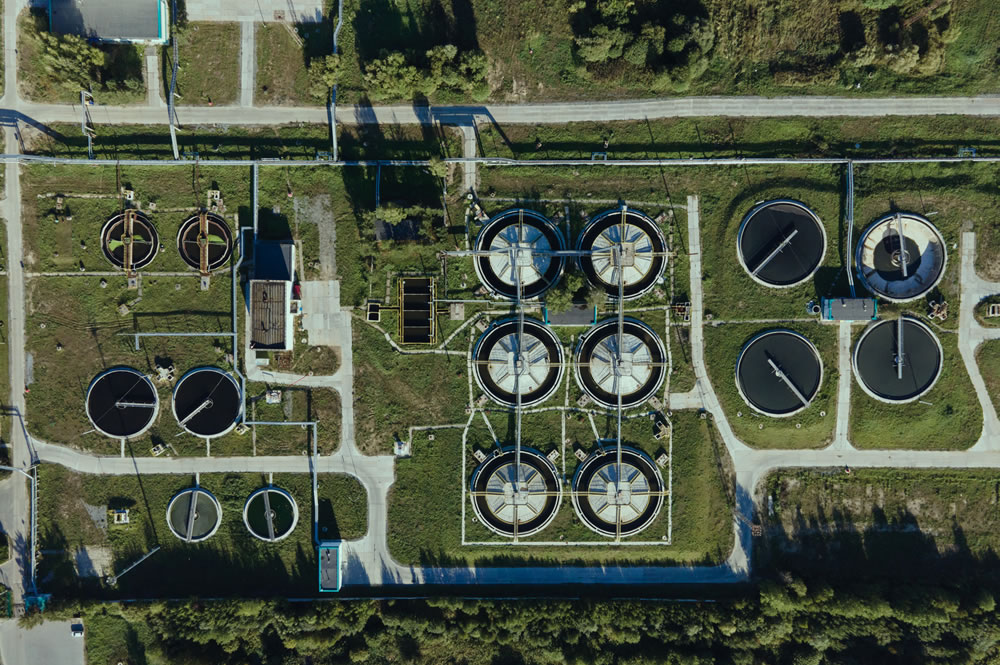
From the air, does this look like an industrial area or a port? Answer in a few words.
industrial area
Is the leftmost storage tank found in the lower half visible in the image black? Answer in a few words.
Yes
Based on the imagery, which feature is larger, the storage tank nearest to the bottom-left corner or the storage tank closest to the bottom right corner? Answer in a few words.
the storage tank closest to the bottom right corner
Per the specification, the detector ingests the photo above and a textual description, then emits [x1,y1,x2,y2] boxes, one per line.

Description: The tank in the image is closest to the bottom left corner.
[167,486,223,542]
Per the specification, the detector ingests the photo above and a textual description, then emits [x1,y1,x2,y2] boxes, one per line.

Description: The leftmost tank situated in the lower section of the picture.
[88,367,160,438]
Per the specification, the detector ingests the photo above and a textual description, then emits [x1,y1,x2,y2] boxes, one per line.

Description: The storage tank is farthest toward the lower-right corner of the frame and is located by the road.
[852,314,940,405]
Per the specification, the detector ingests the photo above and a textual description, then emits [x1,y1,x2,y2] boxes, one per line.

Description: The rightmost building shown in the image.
[815,298,877,324]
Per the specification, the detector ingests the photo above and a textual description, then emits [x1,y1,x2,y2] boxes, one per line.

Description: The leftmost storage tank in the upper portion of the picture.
[102,208,160,283]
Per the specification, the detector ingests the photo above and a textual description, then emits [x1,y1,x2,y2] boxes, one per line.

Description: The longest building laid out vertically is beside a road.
[248,242,300,349]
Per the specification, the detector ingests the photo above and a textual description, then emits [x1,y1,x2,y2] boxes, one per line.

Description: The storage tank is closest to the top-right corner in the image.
[854,213,945,303]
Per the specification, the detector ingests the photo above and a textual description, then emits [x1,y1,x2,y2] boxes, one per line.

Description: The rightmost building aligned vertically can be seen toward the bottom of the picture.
[319,541,343,592]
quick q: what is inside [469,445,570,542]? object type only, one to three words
storage tank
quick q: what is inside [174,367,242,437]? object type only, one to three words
storage tank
